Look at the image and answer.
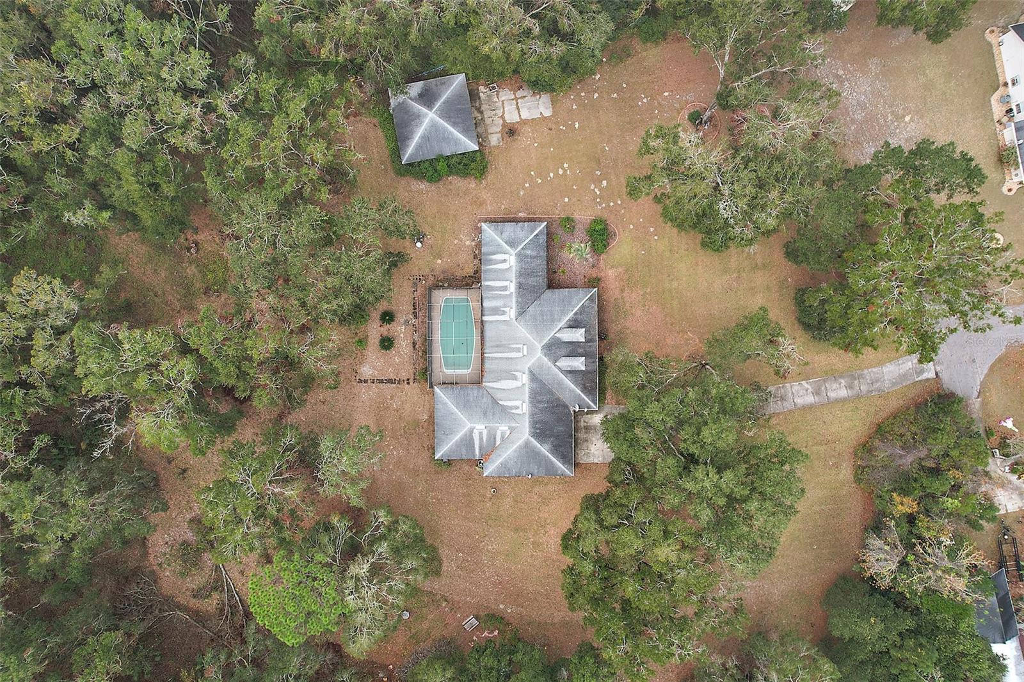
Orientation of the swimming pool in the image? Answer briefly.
vertically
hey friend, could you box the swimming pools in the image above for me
[437,293,476,375]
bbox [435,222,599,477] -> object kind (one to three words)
house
